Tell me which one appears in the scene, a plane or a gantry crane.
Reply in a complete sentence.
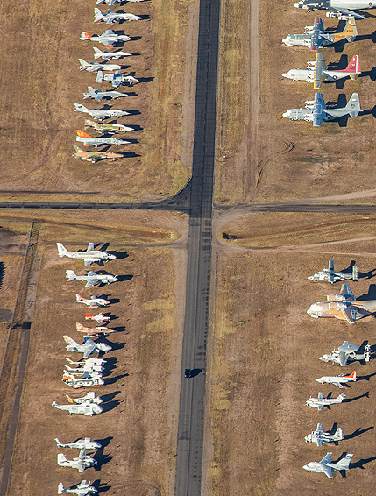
There is a plane in the scene.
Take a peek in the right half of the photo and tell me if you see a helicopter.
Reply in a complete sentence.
No, there is no helicopter in the right half of the photo.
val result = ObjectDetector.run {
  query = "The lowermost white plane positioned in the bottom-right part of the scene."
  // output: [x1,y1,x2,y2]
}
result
[303,451,354,475]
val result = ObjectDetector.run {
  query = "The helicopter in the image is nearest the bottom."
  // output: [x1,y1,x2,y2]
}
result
[55,438,102,452]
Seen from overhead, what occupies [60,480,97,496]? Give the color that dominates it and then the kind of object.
white airplane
